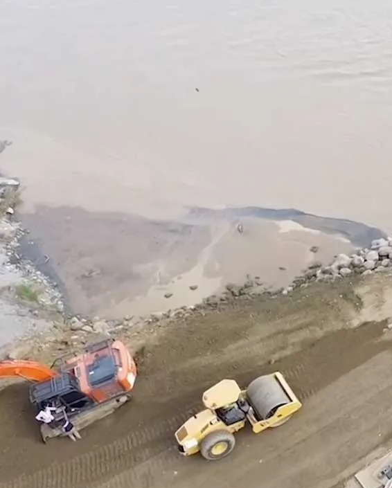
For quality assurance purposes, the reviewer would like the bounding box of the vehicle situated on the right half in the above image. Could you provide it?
[173,365,302,462]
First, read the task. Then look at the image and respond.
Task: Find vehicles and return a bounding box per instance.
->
[173,365,302,462]
[0,335,139,440]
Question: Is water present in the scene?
Yes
